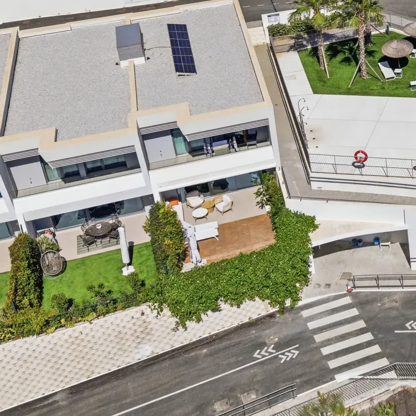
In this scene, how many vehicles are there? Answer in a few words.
0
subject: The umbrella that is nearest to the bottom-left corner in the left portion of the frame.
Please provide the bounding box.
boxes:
[119,230,136,274]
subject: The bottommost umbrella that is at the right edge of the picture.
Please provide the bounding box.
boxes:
[381,32,416,68]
